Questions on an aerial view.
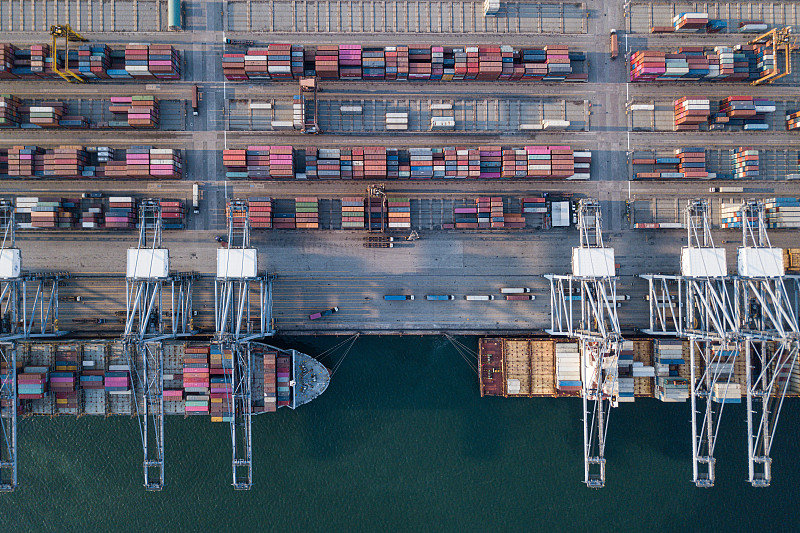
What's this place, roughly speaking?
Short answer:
port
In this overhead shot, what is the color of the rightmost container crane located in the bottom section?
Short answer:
white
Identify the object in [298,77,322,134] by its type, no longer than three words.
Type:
container crane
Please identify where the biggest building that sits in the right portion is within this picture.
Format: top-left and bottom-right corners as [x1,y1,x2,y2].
[551,202,570,226]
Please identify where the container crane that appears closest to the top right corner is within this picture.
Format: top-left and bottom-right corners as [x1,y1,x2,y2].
[751,29,790,85]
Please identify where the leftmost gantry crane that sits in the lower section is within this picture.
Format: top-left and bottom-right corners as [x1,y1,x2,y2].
[0,197,86,494]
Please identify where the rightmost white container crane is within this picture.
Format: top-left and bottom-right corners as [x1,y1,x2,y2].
[698,198,800,491]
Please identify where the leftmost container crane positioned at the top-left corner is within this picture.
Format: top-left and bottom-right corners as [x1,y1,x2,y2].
[48,24,86,84]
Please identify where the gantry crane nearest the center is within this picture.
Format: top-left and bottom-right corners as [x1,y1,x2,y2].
[366,183,386,234]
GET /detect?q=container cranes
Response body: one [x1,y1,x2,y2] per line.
[538,198,623,491]
[298,77,322,134]
[48,24,86,84]
[0,197,86,494]
[634,198,745,491]
[366,183,386,234]
[212,197,288,492]
[698,198,800,491]
[116,197,212,493]
[751,29,790,85]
